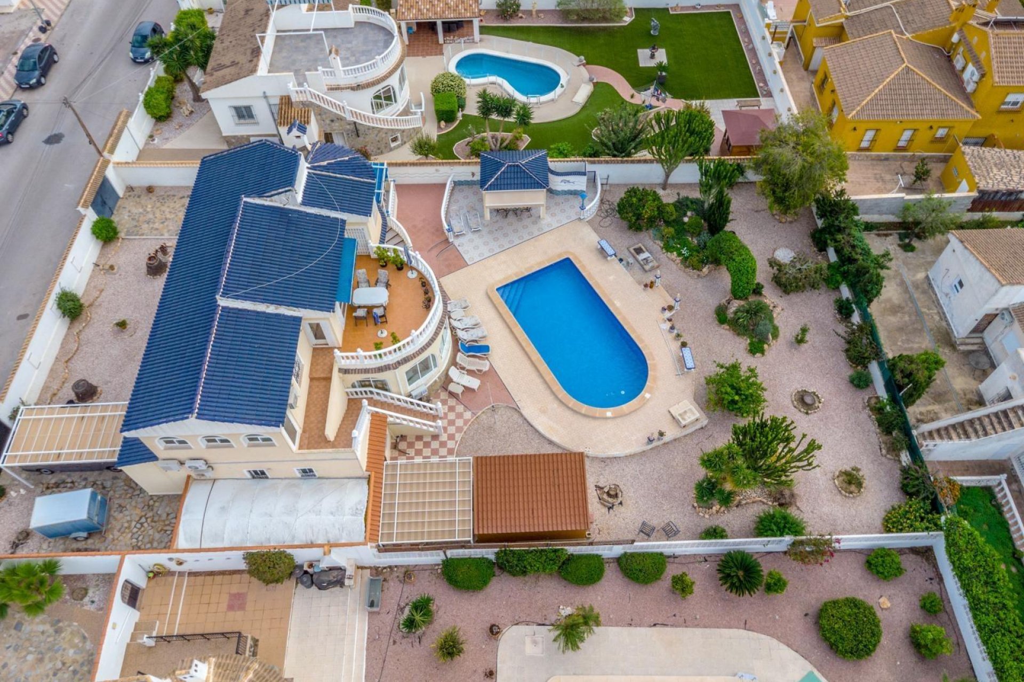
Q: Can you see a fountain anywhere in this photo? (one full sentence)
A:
Yes, you can see a fountain in this photo.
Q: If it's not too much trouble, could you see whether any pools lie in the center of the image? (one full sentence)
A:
Yes, a pool is visible in the center of the image.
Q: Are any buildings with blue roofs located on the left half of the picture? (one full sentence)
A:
Yes, on the left half of the picture there is a building with a blue roof.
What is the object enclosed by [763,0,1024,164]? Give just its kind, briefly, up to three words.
house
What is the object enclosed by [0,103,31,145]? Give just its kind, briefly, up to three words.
car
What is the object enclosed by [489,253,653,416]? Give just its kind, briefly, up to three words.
swimming pool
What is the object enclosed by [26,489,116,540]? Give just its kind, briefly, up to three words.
trailer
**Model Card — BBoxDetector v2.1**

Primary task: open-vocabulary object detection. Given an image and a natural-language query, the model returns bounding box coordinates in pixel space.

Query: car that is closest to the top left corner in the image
[17,45,59,87]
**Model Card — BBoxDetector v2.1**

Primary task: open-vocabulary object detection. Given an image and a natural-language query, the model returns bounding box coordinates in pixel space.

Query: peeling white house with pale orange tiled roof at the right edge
[926,229,1024,367]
